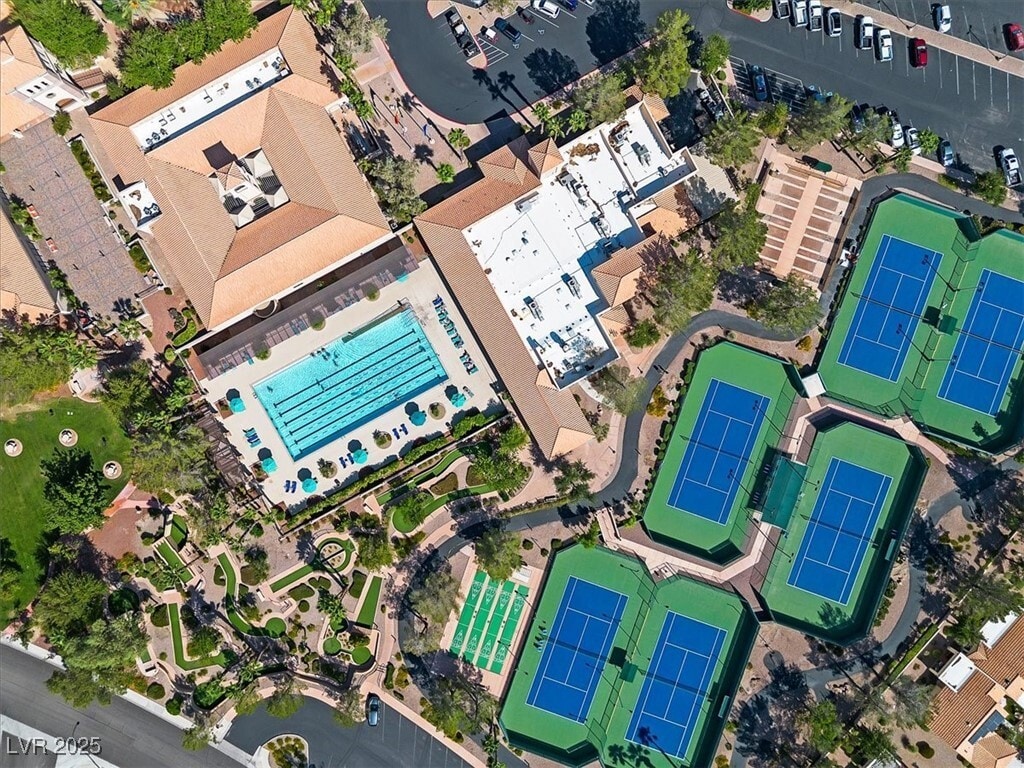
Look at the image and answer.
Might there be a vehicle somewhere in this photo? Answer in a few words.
Yes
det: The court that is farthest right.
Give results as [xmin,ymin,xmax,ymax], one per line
[912,233,1024,453]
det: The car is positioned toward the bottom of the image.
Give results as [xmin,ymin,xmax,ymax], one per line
[368,696,380,725]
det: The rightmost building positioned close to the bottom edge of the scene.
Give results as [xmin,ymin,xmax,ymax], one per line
[926,602,1024,768]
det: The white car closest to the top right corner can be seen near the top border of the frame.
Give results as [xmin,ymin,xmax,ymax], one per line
[936,4,952,33]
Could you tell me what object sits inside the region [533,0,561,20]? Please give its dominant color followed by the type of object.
white car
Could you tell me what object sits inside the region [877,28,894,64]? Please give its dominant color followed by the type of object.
white vehicle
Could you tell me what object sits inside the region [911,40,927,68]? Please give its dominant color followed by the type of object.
red car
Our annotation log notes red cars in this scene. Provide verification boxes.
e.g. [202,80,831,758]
[911,40,927,68]
[1007,23,1024,52]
